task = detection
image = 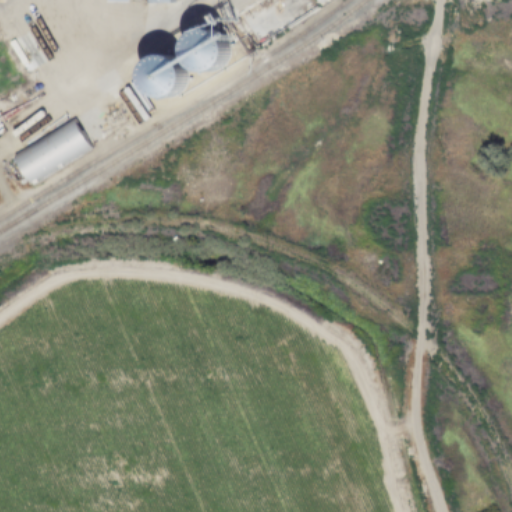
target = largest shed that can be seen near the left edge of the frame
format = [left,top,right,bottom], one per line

[18,116,92,182]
